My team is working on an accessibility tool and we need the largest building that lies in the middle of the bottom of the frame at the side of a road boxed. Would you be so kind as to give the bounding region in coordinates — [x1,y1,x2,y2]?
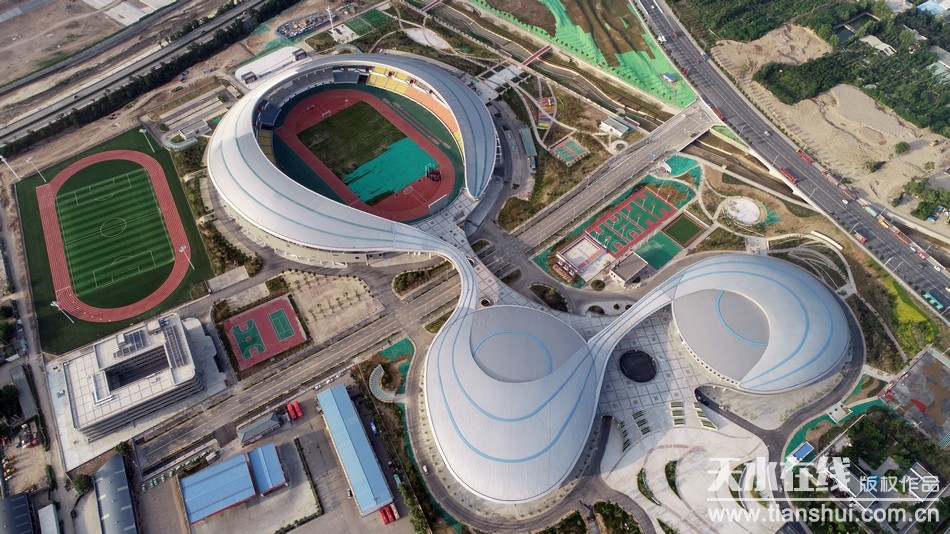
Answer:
[424,304,621,504]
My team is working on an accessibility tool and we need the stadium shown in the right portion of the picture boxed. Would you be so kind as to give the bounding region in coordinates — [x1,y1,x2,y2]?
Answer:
[620,252,852,395]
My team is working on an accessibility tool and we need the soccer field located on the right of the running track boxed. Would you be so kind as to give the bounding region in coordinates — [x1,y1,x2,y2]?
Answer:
[662,208,710,248]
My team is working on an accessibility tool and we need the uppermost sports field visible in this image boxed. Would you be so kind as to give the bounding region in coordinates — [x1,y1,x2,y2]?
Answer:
[299,100,406,206]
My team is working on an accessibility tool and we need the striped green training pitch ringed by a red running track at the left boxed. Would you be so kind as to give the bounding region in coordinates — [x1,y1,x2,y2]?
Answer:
[14,130,215,354]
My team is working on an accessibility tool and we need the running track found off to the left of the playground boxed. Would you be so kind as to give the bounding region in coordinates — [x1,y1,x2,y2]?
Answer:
[271,83,464,225]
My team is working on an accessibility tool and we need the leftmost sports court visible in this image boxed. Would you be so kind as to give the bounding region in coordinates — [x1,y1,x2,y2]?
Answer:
[216,292,307,368]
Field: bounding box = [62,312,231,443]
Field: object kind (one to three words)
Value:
building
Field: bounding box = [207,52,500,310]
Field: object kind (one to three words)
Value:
stadium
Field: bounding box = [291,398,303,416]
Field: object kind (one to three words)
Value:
vehicle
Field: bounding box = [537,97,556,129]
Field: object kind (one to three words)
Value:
playground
